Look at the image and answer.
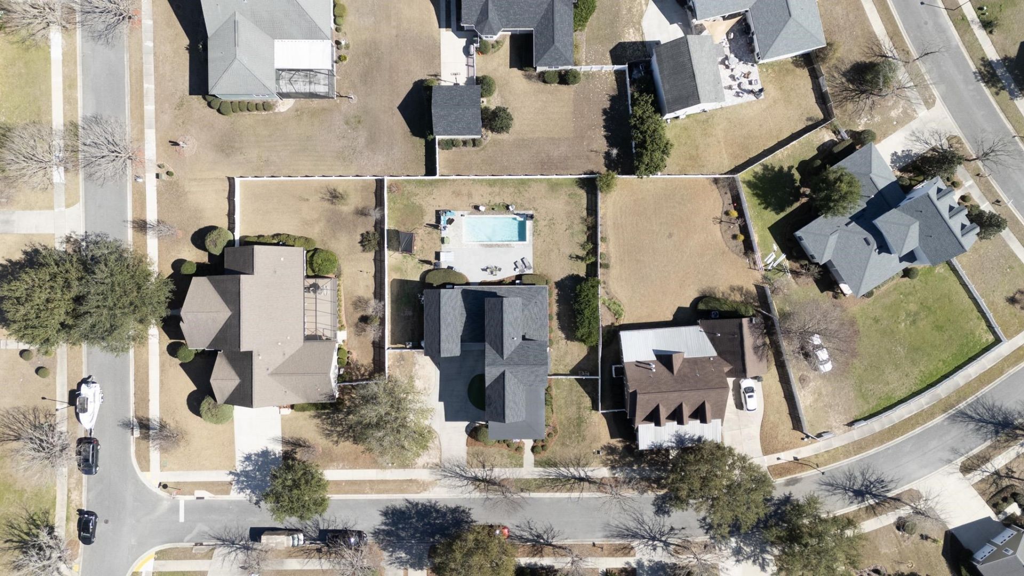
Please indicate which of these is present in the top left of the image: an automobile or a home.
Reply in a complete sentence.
You can see a home in the top left of the image.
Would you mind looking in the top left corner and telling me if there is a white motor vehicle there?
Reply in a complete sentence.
No, there's no white motor vehicle to be seen in the top left corner.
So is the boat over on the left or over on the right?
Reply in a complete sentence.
The boat is on the left side of the image.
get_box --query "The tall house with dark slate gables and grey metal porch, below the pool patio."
[424,286,548,439]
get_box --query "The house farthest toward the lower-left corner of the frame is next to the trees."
[181,246,341,410]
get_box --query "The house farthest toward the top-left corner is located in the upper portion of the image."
[201,0,336,102]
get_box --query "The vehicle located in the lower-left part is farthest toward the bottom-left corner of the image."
[78,511,96,542]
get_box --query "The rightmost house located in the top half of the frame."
[793,142,980,298]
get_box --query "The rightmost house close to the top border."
[688,0,826,68]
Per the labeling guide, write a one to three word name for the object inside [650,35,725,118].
building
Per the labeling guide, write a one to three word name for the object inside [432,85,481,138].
building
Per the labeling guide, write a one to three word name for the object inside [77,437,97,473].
car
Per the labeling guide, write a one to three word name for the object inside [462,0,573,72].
house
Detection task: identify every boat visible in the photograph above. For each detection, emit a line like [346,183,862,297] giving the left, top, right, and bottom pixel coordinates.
[73,382,95,434]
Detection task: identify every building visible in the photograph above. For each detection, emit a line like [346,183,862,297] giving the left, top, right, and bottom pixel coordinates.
[793,142,980,298]
[612,317,767,449]
[201,0,336,102]
[424,286,548,439]
[650,35,725,118]
[181,246,341,410]
[462,0,573,72]
[688,0,826,68]
[432,85,481,138]
[971,530,1024,576]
